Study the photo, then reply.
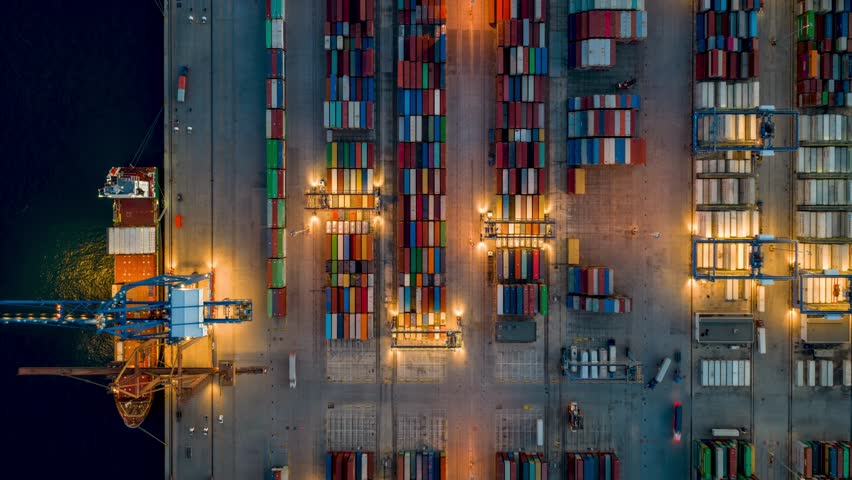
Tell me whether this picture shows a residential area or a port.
port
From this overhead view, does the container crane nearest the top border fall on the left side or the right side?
right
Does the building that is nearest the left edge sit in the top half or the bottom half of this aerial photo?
bottom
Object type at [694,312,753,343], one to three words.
building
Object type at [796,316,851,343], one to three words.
building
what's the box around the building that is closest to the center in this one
[494,319,536,343]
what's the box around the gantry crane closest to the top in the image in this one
[691,105,798,157]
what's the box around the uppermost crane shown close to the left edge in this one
[0,265,254,346]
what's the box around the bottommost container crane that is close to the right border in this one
[790,260,852,319]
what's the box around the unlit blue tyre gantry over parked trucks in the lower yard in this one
[561,346,641,381]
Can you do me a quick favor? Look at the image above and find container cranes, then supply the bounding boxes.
[561,346,641,381]
[389,317,462,354]
[18,329,265,398]
[691,227,798,285]
[0,265,254,346]
[790,260,852,319]
[305,186,381,215]
[691,105,798,157]
[479,214,556,242]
